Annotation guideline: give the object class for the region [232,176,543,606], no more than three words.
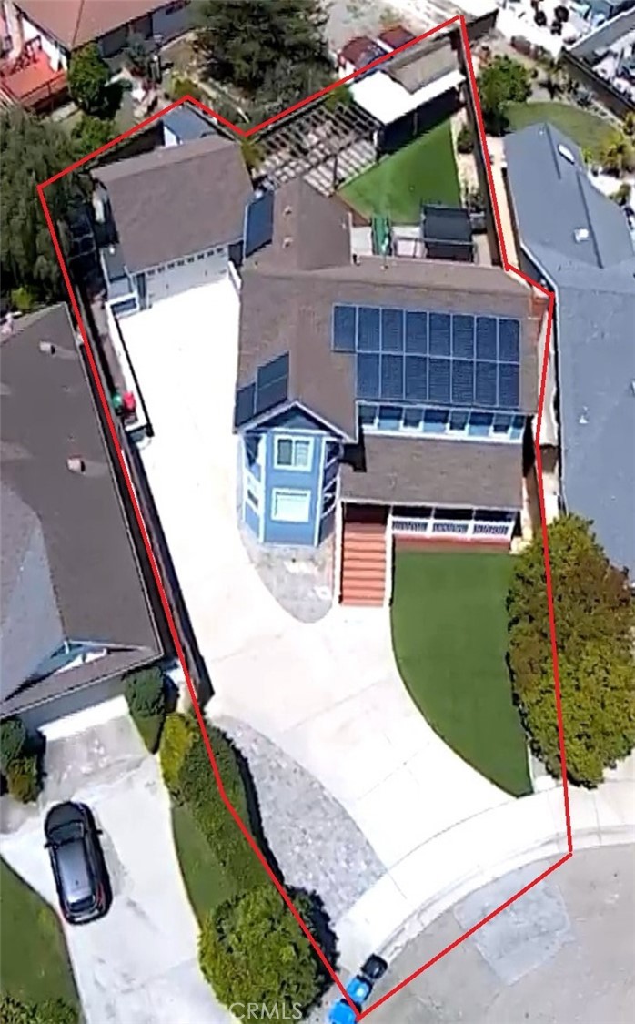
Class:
house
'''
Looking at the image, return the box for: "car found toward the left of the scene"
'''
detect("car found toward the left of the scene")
[41,808,109,923]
